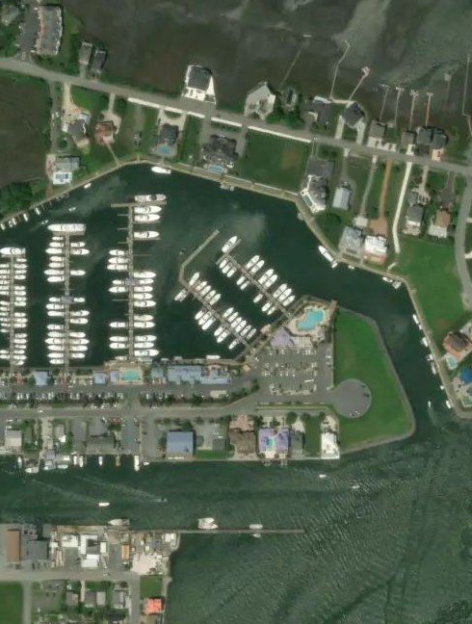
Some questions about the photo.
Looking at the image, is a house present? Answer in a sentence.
Yes, there is a house in the image.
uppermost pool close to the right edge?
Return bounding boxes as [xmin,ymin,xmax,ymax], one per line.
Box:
[444,355,457,370]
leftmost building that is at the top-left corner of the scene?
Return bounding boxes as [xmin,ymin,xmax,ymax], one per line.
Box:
[0,5,21,26]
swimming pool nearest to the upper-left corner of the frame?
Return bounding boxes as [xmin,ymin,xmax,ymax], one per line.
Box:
[154,145,177,157]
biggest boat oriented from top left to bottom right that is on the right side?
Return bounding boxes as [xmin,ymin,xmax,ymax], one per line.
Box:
[320,245,336,266]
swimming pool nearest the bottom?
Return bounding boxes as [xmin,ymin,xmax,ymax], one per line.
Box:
[265,439,279,458]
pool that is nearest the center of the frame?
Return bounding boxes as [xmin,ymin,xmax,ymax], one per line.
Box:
[288,302,329,338]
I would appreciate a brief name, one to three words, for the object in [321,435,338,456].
house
